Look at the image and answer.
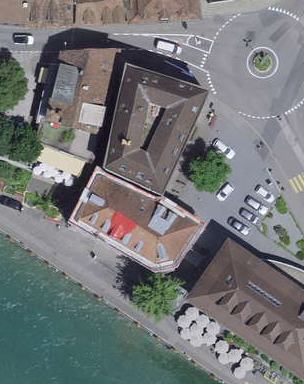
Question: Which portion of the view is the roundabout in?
top right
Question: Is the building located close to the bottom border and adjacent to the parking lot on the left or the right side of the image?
right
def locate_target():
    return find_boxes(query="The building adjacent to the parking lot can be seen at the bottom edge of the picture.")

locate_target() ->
[188,238,304,381]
